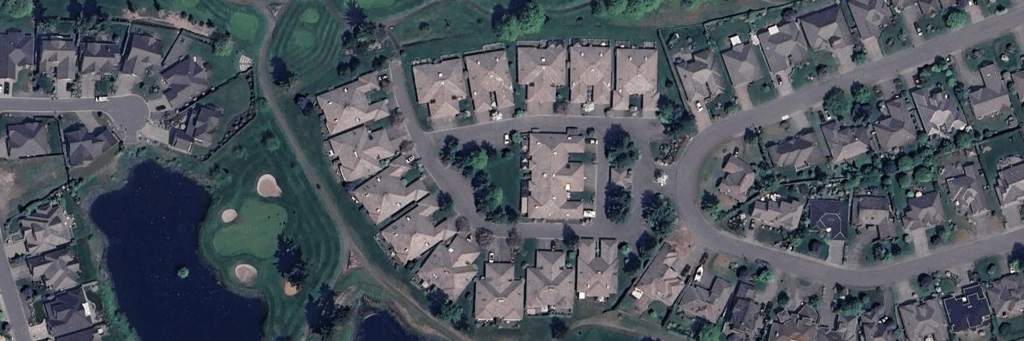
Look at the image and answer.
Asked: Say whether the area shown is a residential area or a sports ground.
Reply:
residential area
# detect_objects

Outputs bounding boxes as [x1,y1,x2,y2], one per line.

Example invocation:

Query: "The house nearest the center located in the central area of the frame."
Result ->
[529,132,585,222]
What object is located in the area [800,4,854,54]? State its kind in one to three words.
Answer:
house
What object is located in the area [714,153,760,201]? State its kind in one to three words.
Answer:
house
